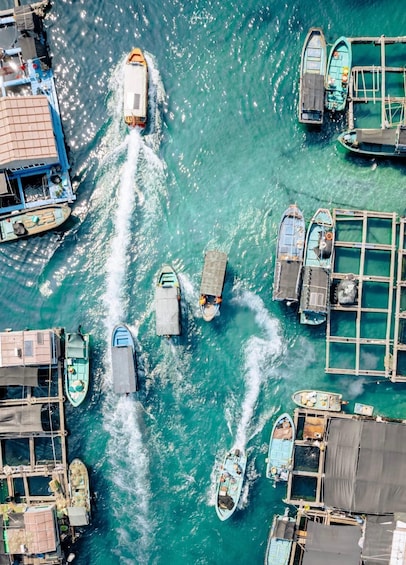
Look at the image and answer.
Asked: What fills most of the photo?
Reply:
water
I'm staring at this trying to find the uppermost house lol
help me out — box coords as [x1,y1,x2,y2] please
[0,95,64,170]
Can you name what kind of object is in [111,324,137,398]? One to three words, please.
boat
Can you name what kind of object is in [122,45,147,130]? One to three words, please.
boat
